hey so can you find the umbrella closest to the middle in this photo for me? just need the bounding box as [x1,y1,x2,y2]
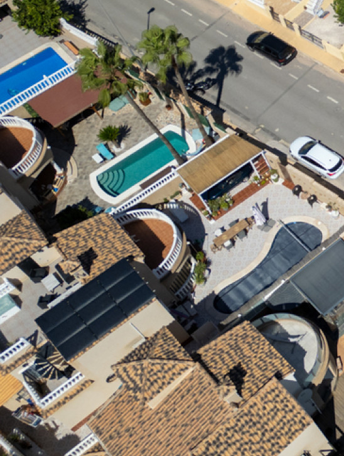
[256,210,272,232]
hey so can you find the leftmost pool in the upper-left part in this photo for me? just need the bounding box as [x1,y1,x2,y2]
[0,40,77,105]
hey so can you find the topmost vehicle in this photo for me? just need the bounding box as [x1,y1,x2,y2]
[244,32,302,67]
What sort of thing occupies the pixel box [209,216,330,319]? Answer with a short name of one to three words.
swimming pool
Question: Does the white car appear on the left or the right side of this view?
right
